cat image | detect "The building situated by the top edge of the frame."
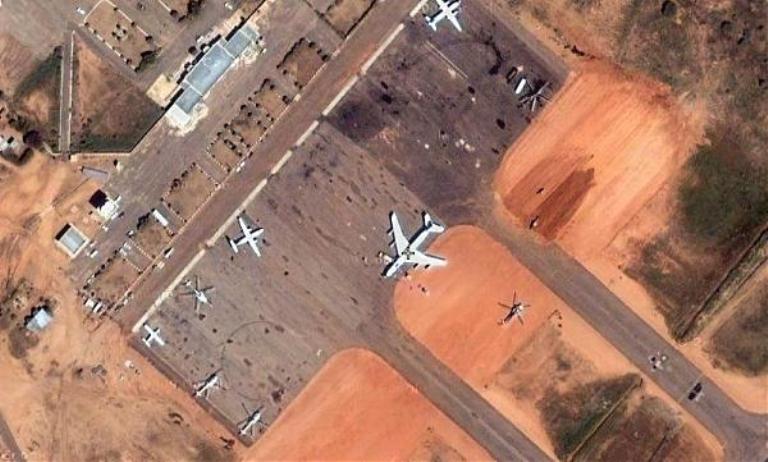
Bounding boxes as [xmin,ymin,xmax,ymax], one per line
[166,22,260,127]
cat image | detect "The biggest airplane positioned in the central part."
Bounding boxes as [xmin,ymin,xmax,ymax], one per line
[385,212,448,277]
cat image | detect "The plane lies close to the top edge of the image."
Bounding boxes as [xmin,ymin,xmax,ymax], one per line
[425,0,462,30]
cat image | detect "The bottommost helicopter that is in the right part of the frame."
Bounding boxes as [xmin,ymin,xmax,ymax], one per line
[500,292,530,321]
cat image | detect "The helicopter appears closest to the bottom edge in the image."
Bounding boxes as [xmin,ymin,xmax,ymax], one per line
[238,406,268,435]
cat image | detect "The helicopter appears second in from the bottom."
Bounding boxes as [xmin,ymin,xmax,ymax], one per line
[194,370,225,399]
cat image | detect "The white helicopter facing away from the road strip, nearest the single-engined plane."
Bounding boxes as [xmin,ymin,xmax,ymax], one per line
[184,278,214,306]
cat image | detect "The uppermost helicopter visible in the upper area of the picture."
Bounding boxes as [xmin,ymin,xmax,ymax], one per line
[519,81,548,111]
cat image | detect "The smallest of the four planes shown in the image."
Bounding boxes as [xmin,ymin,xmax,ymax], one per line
[142,326,163,346]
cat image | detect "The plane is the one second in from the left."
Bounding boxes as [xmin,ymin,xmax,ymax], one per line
[229,217,262,256]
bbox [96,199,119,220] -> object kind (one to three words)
building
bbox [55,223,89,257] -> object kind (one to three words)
building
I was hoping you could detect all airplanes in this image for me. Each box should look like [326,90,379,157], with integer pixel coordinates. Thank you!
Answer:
[142,326,163,346]
[229,217,262,256]
[385,212,448,277]
[425,0,462,30]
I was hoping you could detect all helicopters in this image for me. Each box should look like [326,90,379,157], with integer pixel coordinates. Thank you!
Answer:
[500,292,530,321]
[184,278,214,306]
[194,370,225,399]
[238,406,268,435]
[519,81,548,111]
